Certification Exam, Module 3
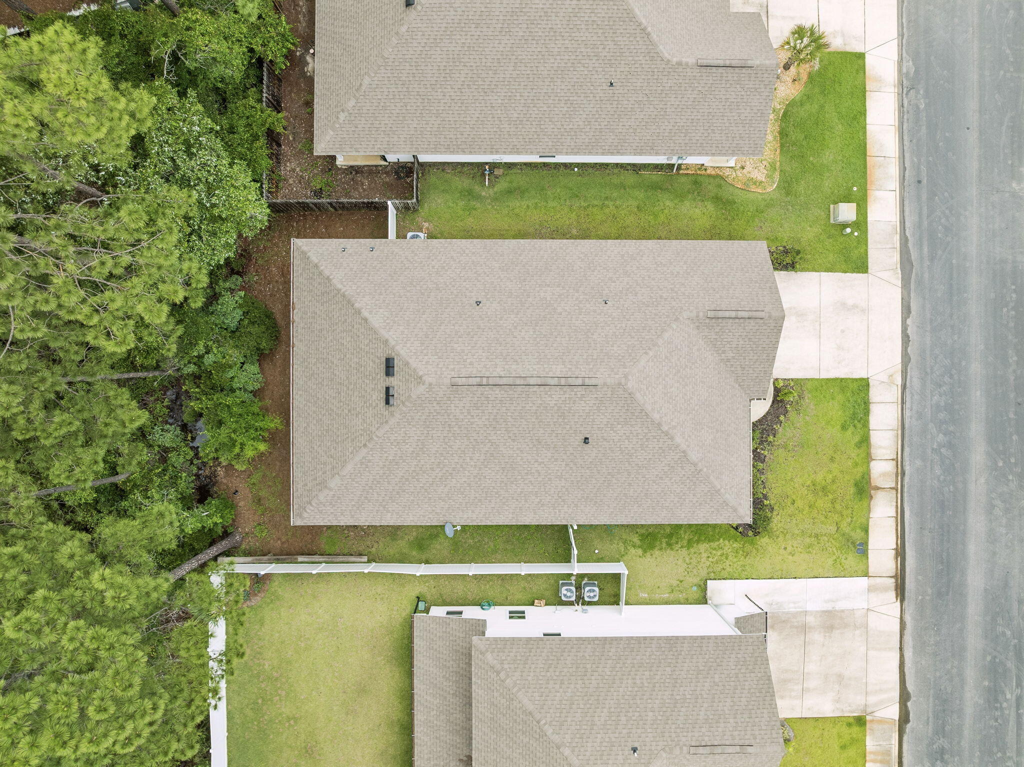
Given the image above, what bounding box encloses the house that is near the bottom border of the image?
[412,594,784,767]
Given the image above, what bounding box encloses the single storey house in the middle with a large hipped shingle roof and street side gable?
[291,237,783,527]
